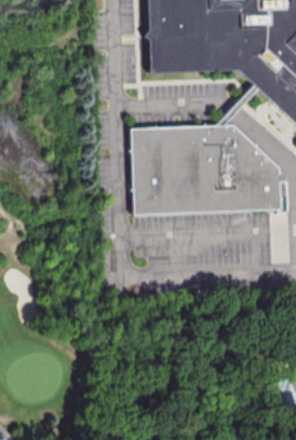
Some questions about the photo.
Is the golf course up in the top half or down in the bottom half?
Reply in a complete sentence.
Seen from above, the golf course lies in the bottom half of the view.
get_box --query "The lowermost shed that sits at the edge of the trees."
[280,380,296,408]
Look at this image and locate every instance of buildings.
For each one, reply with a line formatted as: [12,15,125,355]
[280,380,296,408]
[132,124,290,215]
[148,0,296,122]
